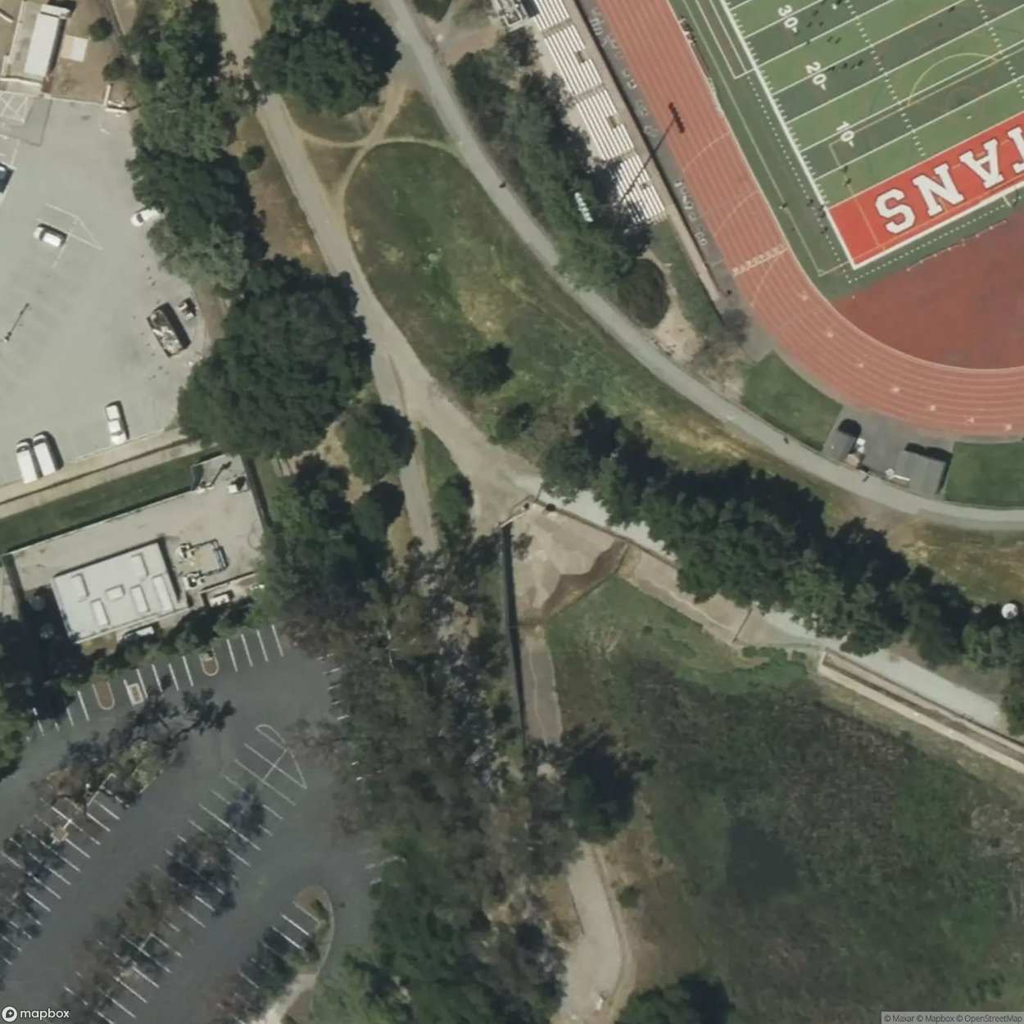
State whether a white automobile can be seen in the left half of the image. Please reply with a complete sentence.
Yes, I can see a white automobile in the left half of the image.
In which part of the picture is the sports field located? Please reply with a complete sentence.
Look in the top right portion of the view to spot the sports field.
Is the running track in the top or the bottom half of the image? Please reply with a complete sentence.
Seen from above, the running track lies in the top half of the view.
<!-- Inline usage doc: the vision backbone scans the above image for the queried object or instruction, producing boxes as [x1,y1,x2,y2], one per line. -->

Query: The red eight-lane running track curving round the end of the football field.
[599,0,1024,433]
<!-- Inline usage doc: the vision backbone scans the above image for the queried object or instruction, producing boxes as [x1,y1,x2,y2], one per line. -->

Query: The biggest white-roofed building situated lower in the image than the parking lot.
[56,543,183,645]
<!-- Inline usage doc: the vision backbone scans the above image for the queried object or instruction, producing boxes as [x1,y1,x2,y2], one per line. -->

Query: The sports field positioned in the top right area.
[670,0,1024,301]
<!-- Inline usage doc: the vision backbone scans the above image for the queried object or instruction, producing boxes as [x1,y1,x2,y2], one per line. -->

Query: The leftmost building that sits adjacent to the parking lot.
[26,16,66,79]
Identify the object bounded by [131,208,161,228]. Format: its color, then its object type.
white car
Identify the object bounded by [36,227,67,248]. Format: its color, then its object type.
white car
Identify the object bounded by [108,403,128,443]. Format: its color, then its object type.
white vehicle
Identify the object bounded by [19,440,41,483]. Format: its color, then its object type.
white vehicle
